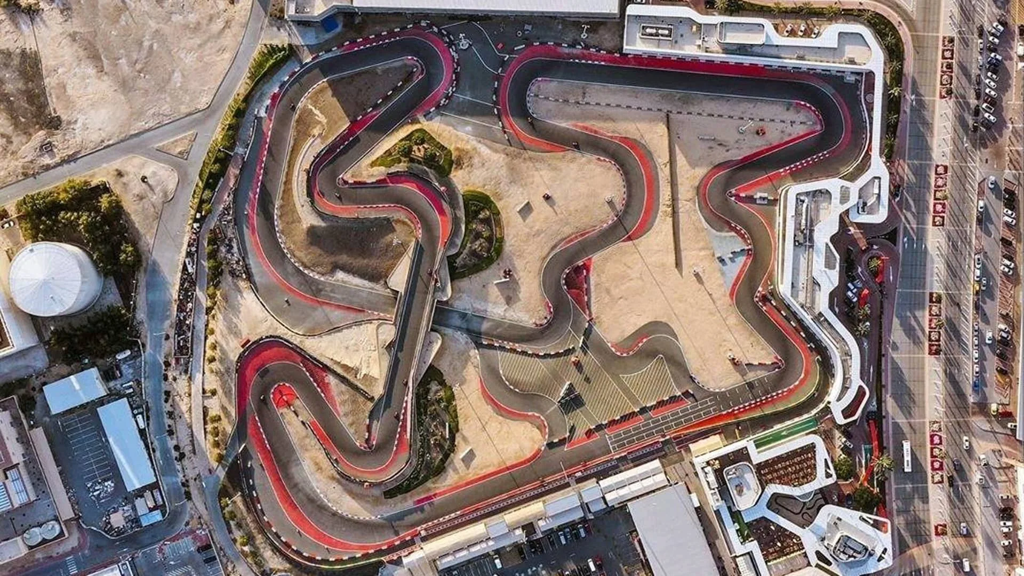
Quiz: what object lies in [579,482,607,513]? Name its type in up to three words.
building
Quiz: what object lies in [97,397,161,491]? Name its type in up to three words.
building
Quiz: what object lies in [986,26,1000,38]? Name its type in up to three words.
vehicle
